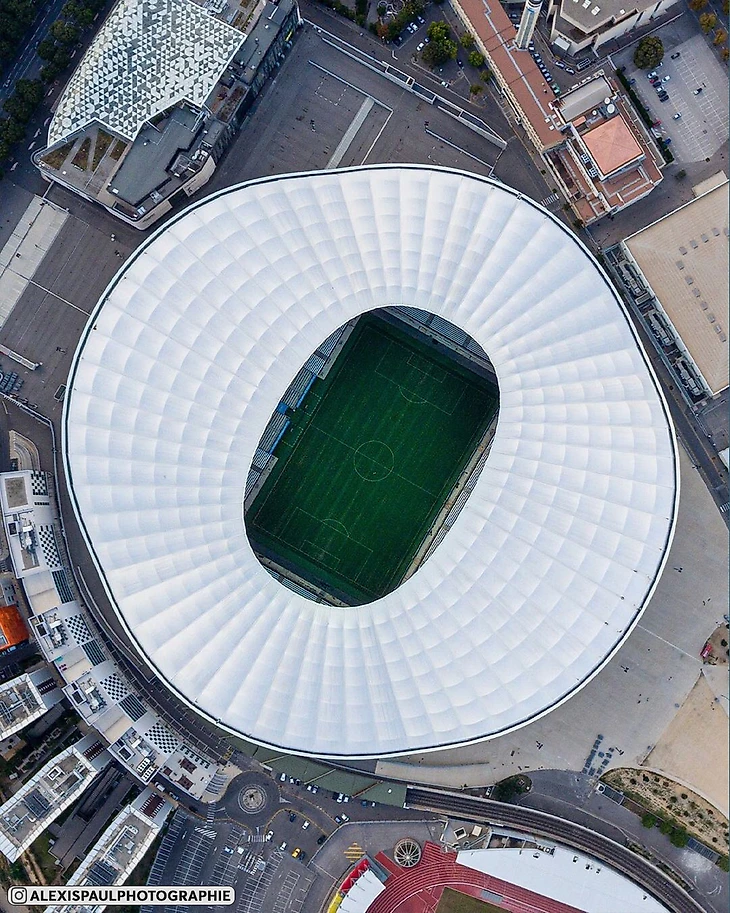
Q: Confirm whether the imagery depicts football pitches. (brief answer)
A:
Yes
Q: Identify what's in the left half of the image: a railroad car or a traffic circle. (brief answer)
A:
traffic circle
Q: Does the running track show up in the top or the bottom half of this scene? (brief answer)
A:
bottom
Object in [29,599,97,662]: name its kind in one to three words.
building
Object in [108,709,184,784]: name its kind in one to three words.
building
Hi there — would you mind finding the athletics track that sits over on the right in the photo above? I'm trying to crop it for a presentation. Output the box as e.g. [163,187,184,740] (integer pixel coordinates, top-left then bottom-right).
[369,842,585,913]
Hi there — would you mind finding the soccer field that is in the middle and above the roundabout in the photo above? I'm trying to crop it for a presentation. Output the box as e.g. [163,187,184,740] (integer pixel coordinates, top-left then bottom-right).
[243,312,499,605]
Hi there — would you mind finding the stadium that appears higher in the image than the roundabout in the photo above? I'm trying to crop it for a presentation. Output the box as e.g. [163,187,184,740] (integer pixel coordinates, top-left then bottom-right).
[62,164,679,760]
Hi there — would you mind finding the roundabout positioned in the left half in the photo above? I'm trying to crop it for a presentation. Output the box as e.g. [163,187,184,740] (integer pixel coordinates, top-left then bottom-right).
[223,768,282,827]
